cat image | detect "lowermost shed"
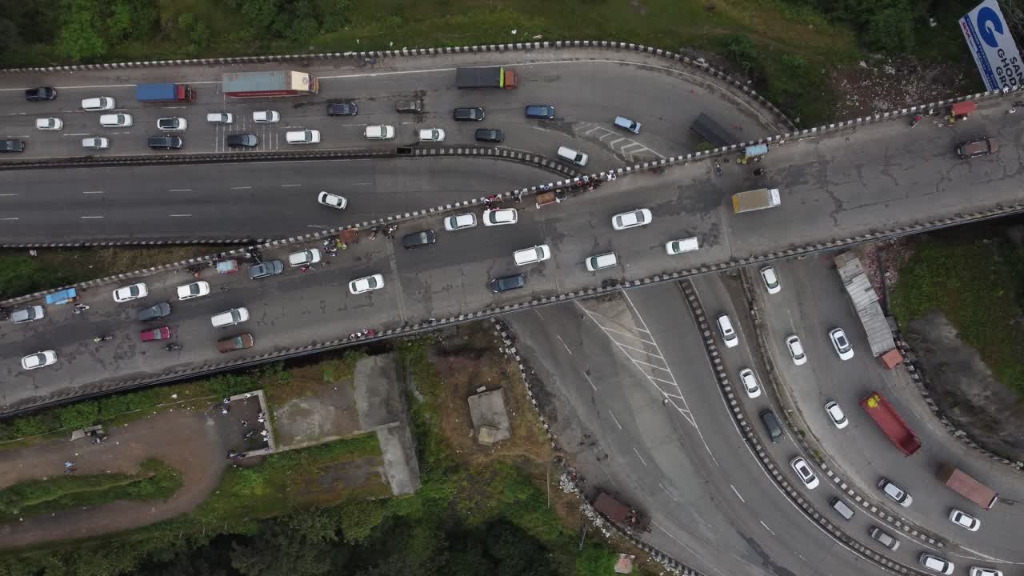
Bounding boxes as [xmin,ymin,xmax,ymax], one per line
[613,551,634,573]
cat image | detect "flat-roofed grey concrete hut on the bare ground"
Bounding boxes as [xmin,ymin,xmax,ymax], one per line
[469,388,511,442]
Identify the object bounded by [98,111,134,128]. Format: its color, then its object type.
white car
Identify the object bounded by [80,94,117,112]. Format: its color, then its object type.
white car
